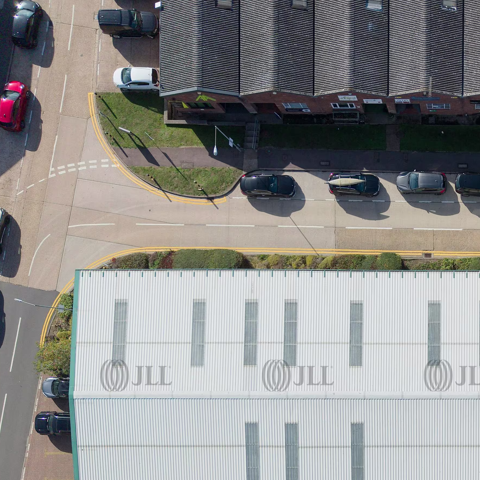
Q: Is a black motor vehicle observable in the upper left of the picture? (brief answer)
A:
Yes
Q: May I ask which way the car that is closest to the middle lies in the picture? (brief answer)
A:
horizontally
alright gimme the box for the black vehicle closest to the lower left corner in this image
[35,409,69,438]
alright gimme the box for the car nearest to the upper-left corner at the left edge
[10,1,45,50]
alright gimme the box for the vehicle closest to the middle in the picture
[241,172,297,200]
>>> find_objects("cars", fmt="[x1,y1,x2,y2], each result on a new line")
[93,0,158,38]
[43,374,67,401]
[35,409,69,438]
[10,1,45,50]
[241,172,297,200]
[397,167,448,196]
[0,80,30,133]
[329,168,382,198]
[114,64,158,92]
[455,173,480,198]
